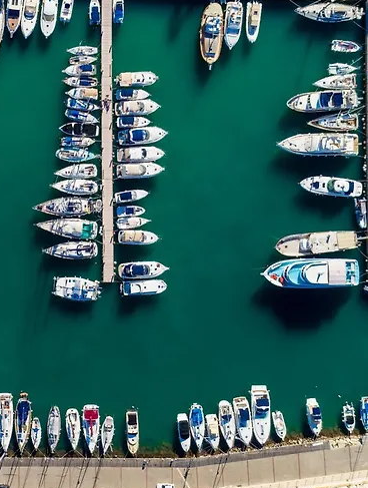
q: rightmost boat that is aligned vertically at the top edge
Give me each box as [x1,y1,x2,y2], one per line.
[245,0,261,42]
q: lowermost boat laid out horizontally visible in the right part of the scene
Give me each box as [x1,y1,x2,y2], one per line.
[264,256,366,292]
